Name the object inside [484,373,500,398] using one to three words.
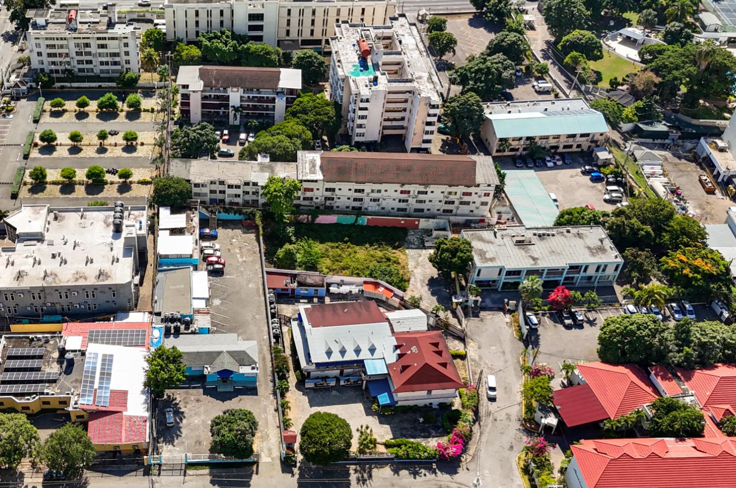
vehicle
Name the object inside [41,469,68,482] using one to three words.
vehicle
